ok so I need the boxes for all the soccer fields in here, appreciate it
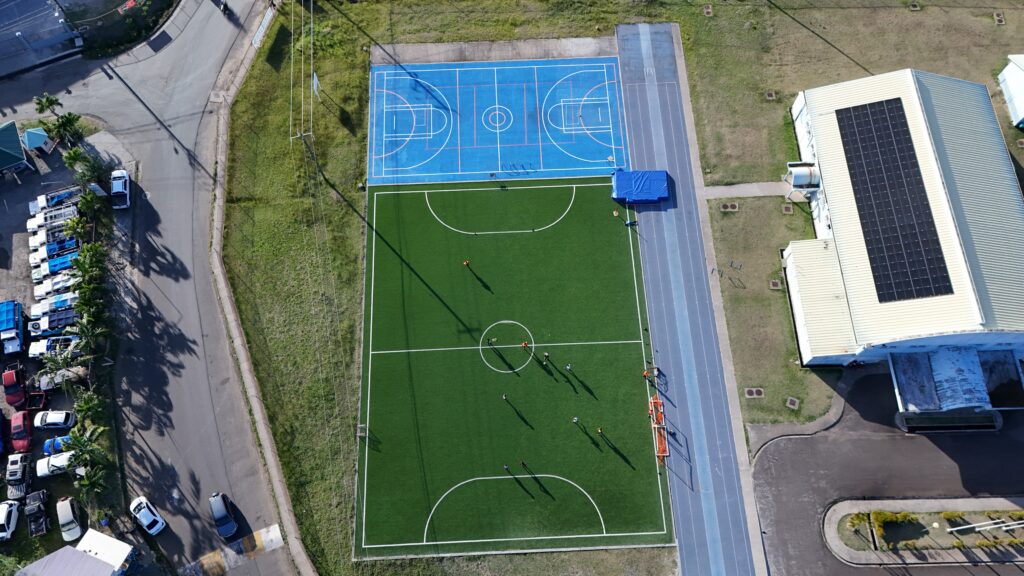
[351,177,678,560]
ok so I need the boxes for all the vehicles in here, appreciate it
[31,251,84,285]
[109,169,133,212]
[31,290,84,320]
[29,334,82,361]
[0,410,12,453]
[0,499,24,542]
[0,296,30,360]
[34,410,79,430]
[44,434,73,456]
[30,237,84,269]
[27,200,83,235]
[28,307,84,338]
[29,182,90,219]
[131,493,166,537]
[9,410,35,453]
[55,494,86,545]
[20,486,54,542]
[1,365,31,408]
[208,490,239,539]
[38,449,75,475]
[34,269,85,300]
[4,451,34,500]
[29,223,69,251]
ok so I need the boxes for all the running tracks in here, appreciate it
[615,22,771,576]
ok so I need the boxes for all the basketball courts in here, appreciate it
[366,36,633,186]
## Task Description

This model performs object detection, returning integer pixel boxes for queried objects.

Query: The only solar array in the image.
[819,99,955,303]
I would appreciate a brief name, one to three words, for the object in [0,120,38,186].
building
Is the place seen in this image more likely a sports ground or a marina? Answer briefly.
sports ground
